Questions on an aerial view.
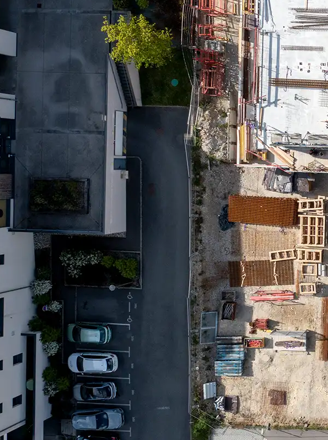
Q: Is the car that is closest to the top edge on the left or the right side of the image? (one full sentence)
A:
The car that is closest to the top edge is on the left side of the image.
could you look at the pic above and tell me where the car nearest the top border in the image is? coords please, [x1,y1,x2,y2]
[63,322,111,348]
